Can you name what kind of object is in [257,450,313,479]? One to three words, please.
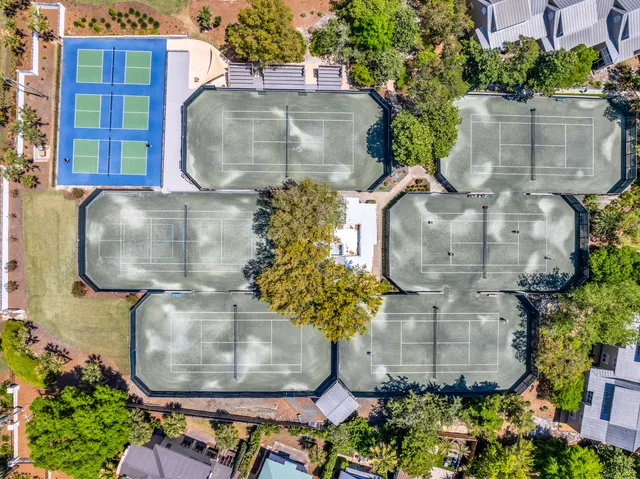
house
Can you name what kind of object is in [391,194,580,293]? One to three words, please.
tennis court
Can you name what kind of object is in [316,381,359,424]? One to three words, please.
building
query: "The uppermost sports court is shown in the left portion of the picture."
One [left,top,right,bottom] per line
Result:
[76,46,152,86]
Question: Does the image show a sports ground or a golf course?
sports ground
